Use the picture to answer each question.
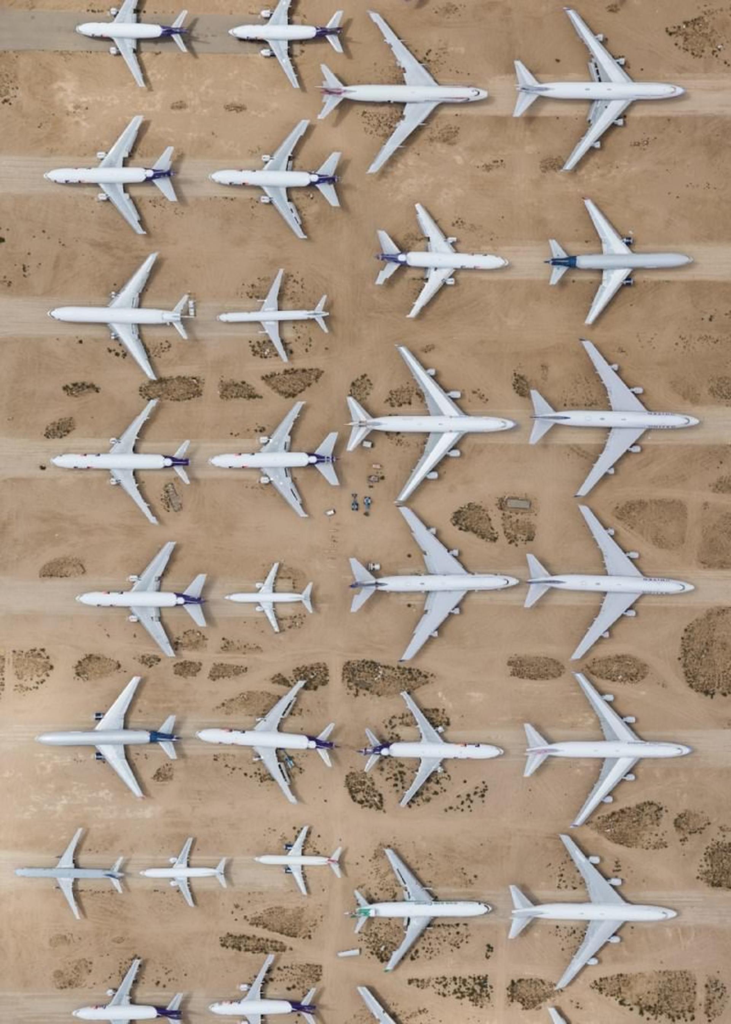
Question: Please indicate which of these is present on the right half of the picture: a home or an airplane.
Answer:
airplane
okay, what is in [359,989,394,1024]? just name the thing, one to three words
airplane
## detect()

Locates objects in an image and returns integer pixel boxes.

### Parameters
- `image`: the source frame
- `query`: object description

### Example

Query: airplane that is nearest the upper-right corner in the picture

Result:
[516,10,685,169]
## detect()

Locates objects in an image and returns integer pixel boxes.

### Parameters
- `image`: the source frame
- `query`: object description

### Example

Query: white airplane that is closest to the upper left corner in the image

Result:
[76,0,188,86]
